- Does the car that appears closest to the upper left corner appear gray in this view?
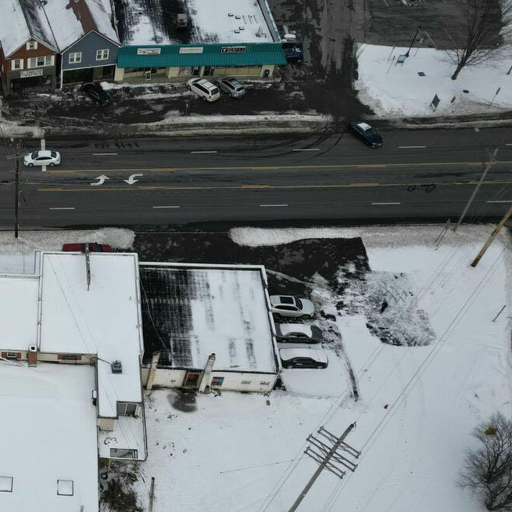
No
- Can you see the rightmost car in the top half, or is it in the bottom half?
top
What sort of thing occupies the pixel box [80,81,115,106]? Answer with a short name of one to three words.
car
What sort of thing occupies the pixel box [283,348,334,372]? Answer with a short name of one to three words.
car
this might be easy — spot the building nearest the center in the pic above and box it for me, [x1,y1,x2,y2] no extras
[137,261,288,397]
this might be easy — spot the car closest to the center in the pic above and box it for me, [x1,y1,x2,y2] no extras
[269,295,318,319]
